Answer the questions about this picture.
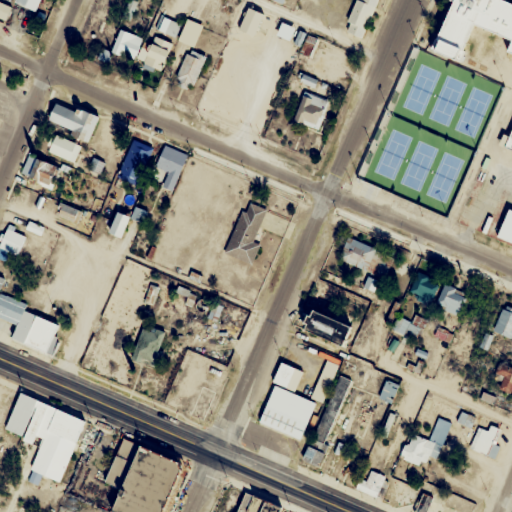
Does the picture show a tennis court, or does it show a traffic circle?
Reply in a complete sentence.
The image shows a tennis court.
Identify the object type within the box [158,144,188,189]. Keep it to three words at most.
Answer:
house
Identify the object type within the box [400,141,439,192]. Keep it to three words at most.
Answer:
tennis court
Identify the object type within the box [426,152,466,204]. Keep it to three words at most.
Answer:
tennis court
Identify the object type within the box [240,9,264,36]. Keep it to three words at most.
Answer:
barn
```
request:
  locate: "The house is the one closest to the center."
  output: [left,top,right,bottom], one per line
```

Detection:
[225,202,267,260]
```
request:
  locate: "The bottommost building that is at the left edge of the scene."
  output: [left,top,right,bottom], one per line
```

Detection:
[4,394,85,485]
